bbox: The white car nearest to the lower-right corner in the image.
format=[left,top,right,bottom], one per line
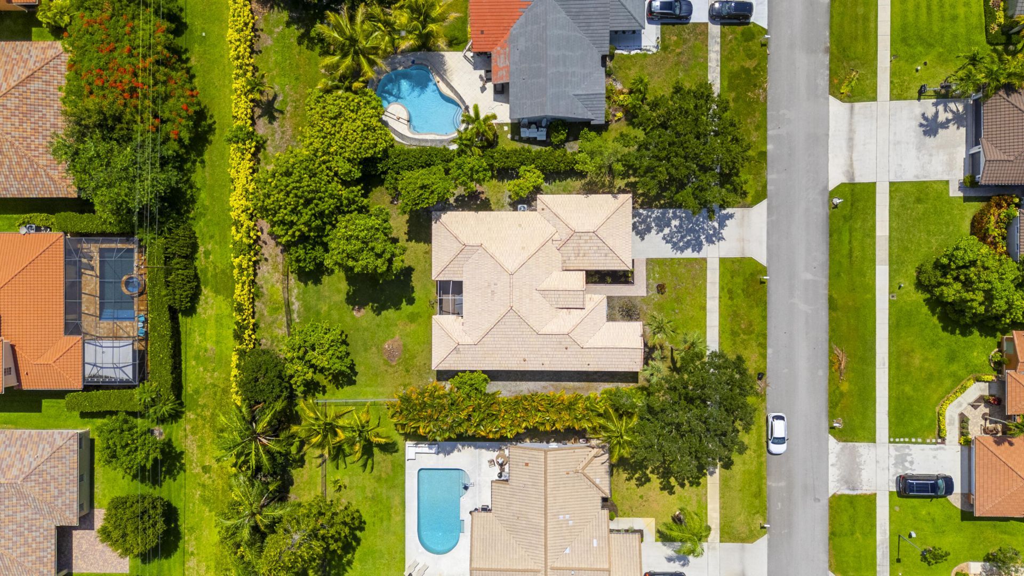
[767,413,790,455]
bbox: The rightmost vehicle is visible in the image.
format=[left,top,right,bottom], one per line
[896,475,954,500]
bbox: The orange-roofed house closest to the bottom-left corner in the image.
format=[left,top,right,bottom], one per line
[0,232,92,394]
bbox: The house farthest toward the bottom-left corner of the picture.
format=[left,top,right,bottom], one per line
[0,429,89,576]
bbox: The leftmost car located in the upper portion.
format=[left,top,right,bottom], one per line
[647,1,693,22]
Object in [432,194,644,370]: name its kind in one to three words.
house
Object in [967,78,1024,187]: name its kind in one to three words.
house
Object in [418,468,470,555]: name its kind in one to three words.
swimming pool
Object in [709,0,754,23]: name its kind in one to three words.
car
